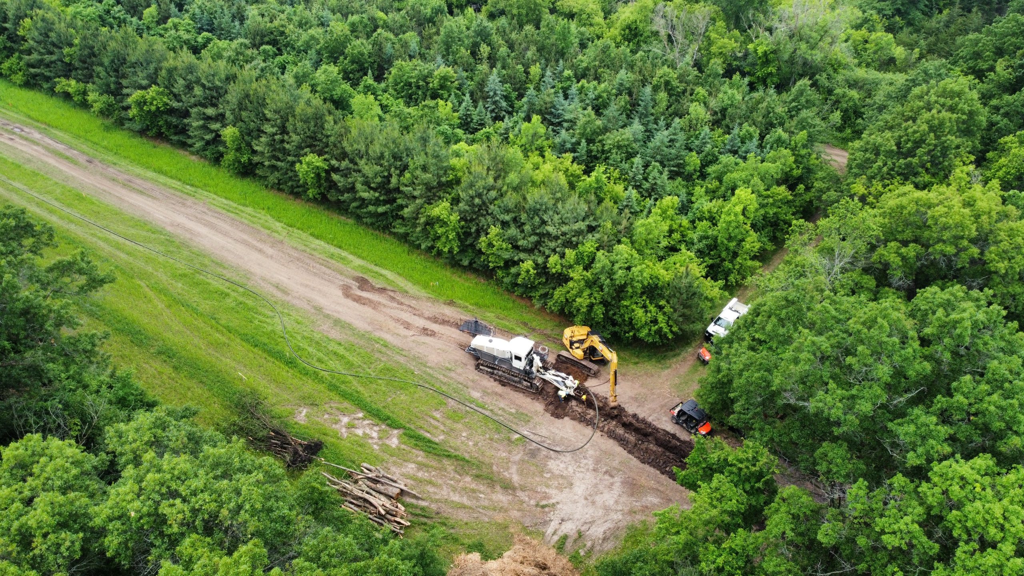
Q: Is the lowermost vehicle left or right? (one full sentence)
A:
It is on the right.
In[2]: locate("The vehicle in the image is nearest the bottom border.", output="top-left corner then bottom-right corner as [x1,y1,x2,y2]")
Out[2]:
[667,399,717,439]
